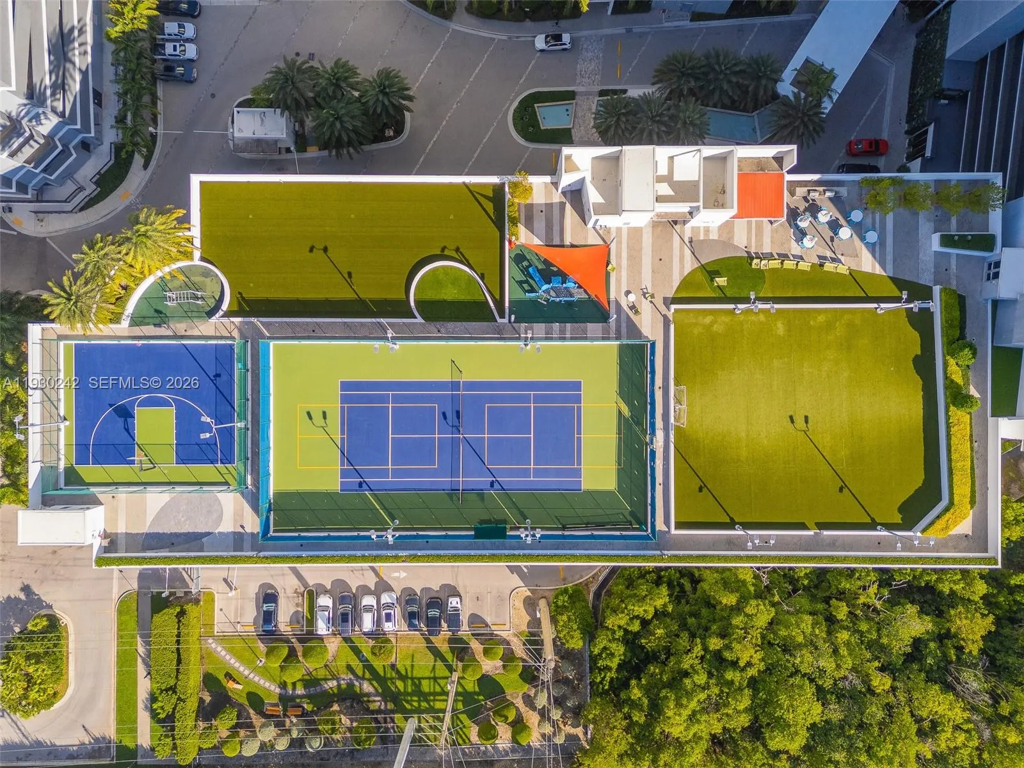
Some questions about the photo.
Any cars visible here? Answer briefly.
Yes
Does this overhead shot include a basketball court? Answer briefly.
Yes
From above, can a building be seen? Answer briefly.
Yes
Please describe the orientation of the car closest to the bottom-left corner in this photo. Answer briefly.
vertically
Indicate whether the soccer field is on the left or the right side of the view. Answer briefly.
right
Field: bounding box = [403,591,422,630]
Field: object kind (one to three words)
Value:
car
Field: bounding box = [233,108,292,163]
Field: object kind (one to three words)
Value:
building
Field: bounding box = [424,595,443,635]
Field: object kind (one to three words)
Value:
car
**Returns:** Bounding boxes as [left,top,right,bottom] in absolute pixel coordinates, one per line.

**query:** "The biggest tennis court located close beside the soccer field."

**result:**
[270,342,650,535]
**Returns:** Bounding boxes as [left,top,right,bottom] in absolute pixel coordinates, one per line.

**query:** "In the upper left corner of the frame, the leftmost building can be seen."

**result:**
[0,0,100,198]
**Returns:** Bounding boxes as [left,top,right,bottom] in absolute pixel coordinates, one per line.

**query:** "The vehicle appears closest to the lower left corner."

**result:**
[260,590,280,630]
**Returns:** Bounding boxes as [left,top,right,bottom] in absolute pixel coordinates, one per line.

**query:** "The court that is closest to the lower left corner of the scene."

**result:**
[59,340,241,489]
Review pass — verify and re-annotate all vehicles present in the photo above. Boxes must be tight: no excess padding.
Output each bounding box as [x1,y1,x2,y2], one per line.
[403,591,422,630]
[260,590,280,630]
[836,159,878,174]
[378,589,398,630]
[158,62,197,84]
[335,592,355,632]
[359,591,378,632]
[424,595,443,635]
[534,32,572,54]
[154,40,201,64]
[445,592,464,632]
[315,592,334,633]
[846,136,886,157]
[153,19,199,43]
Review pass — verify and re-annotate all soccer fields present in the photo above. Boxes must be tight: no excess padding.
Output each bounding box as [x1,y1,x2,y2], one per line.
[669,287,947,534]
